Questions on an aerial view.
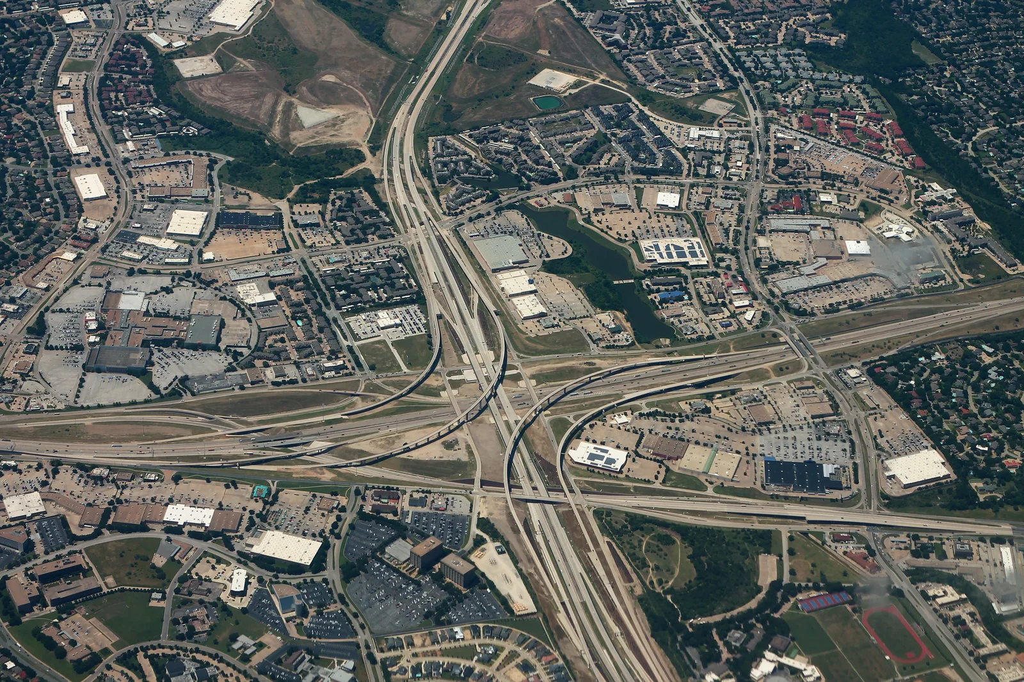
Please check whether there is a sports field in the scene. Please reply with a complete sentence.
Yes, a sports field can be made out from above.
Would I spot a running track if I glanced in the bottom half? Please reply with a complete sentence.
Yes, in the bottom half there is a running track.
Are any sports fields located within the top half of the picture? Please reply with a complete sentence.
No, looking within the top half of the picture, there is no sports field.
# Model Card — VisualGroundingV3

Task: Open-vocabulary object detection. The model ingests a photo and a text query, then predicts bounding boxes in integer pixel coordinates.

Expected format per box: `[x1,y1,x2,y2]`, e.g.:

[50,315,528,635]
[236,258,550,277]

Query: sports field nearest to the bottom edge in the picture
[811,652,861,682]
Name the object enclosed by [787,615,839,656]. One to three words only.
sports field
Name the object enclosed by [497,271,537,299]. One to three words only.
building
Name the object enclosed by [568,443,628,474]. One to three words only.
building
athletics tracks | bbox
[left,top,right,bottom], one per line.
[863,604,940,667]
